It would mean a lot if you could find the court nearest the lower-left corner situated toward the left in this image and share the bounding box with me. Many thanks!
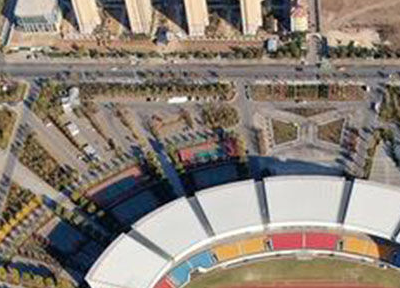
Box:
[36,217,93,263]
